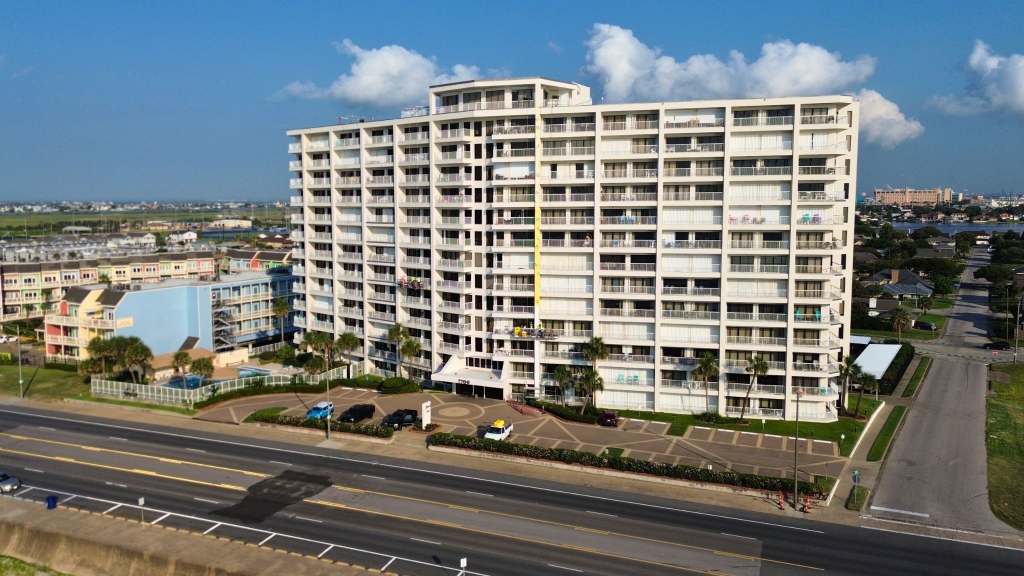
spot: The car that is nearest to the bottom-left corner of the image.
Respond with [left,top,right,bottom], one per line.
[0,469,23,491]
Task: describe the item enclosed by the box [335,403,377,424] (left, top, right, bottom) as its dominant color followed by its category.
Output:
black truck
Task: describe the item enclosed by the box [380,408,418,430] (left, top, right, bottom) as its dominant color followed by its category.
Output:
black truck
